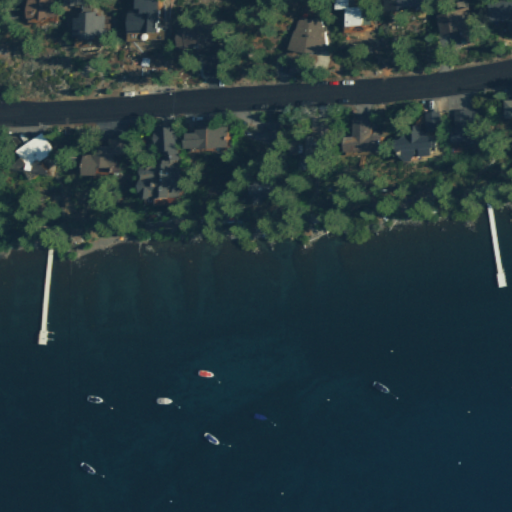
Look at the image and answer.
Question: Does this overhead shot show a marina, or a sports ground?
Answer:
marina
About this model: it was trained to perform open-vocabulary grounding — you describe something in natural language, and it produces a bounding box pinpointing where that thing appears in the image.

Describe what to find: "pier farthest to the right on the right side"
[488,206,506,288]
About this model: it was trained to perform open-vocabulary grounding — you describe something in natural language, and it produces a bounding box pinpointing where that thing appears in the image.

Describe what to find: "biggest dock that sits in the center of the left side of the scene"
[39,251,54,344]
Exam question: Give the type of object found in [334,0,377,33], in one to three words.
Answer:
house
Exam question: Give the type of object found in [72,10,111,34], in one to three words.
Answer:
house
